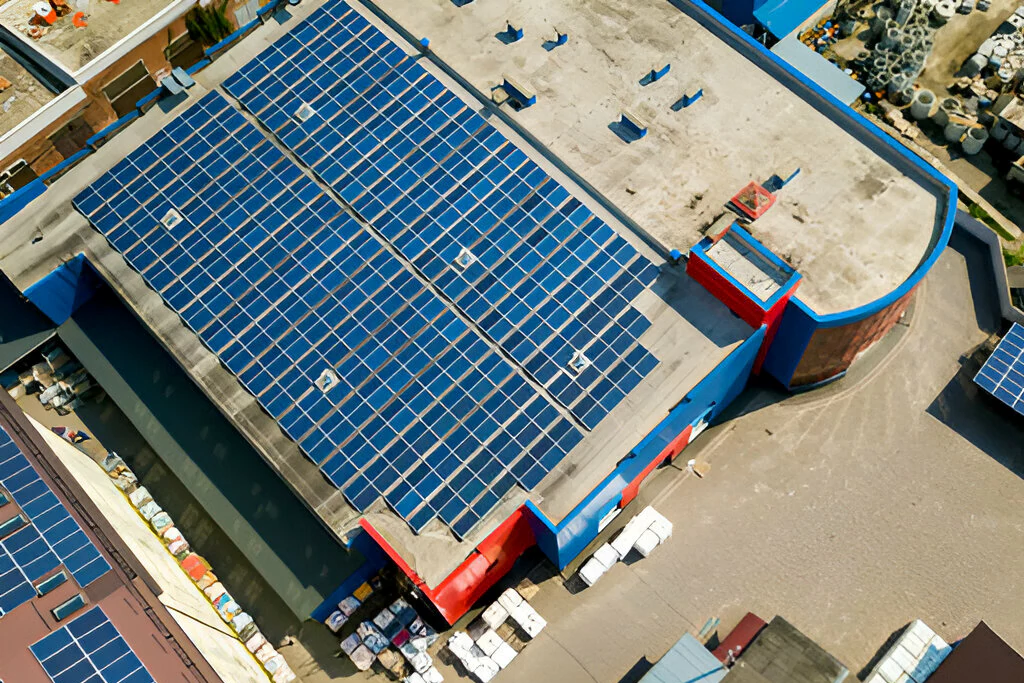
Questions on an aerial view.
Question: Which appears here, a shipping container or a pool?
shipping container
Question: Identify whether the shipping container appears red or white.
red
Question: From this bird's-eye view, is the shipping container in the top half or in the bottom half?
bottom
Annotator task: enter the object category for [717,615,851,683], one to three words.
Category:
shed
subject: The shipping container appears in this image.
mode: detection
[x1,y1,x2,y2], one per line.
[711,612,768,667]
